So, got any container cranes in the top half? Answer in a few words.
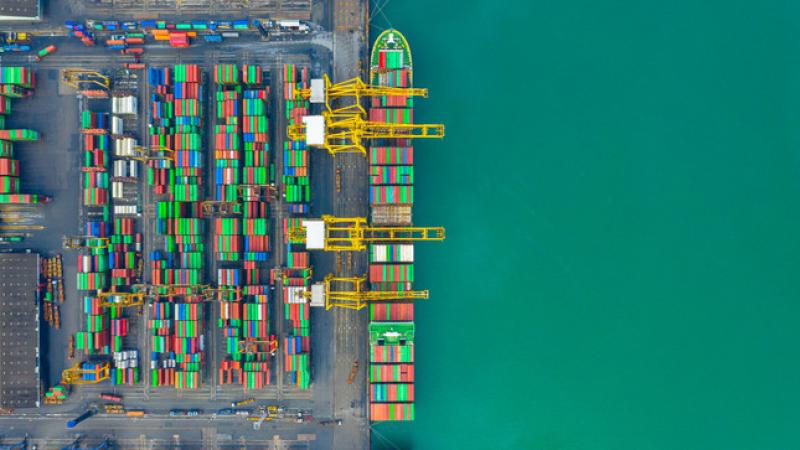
Yes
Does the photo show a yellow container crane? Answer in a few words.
Yes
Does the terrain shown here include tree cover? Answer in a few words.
No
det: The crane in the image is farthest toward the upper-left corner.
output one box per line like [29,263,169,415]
[62,71,111,90]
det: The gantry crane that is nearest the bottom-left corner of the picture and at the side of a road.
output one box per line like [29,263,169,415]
[62,363,111,384]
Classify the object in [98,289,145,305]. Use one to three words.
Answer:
container crane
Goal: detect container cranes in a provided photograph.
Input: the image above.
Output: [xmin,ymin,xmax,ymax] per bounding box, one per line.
[202,200,245,215]
[288,110,444,160]
[288,212,444,255]
[202,284,245,301]
[237,185,279,200]
[98,289,145,305]
[62,71,111,90]
[294,76,428,120]
[238,334,279,353]
[173,281,216,298]
[270,265,313,281]
[62,234,111,249]
[62,363,111,384]
[294,271,428,309]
